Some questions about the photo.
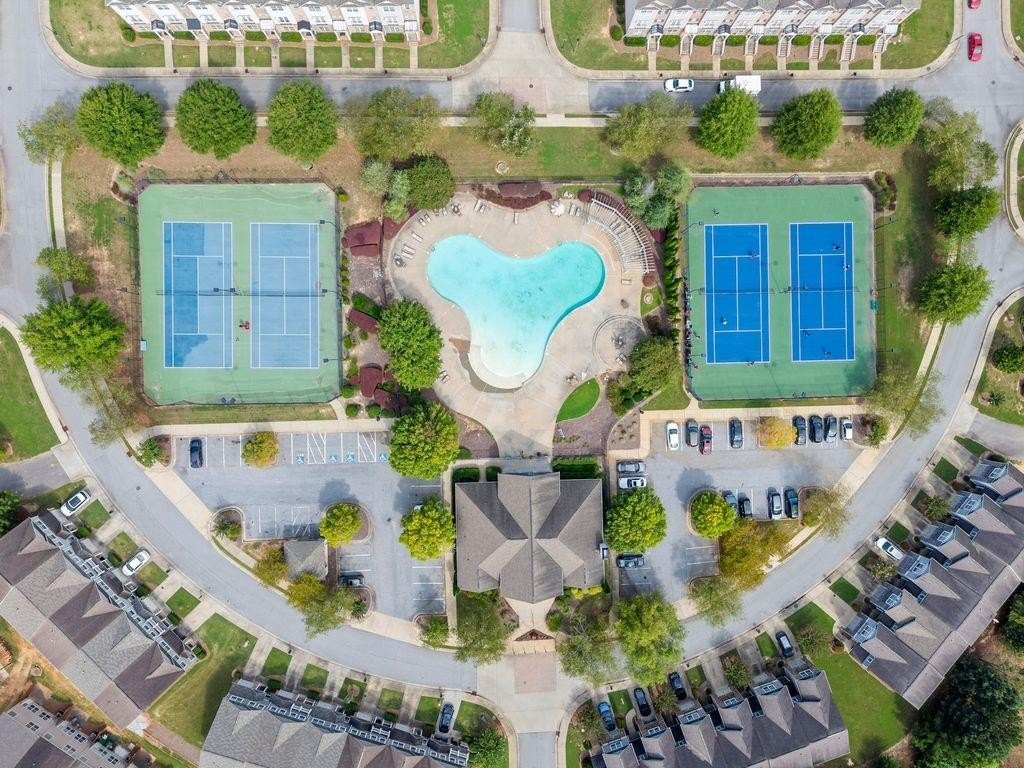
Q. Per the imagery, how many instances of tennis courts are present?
four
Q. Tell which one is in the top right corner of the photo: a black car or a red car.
red car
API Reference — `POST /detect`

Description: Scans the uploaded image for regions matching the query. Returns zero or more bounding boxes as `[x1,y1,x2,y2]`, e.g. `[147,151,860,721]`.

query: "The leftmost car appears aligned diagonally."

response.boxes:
[62,489,91,515]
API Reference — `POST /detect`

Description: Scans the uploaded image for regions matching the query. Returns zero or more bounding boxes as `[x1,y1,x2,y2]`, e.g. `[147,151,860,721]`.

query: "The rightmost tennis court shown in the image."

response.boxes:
[780,184,877,402]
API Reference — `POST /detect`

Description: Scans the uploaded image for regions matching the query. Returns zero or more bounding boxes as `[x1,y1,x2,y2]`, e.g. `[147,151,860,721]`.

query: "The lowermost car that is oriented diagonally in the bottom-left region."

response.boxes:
[123,548,151,574]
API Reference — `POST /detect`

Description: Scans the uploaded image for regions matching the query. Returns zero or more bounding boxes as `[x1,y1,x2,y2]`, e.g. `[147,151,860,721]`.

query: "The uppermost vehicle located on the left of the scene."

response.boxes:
[189,437,204,467]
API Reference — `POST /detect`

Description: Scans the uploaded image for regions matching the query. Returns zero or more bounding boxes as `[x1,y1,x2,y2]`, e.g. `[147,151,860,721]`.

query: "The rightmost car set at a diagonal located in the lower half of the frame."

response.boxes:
[872,534,901,559]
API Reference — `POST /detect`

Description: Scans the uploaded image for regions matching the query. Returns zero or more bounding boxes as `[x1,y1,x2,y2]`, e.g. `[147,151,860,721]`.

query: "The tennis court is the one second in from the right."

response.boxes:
[686,185,781,403]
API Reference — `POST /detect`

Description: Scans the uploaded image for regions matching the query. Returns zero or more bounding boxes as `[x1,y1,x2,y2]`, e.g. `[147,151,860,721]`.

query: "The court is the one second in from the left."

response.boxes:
[242,183,341,404]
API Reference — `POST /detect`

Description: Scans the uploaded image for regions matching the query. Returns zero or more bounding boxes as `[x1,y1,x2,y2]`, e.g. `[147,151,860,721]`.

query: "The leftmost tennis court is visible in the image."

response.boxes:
[138,183,242,405]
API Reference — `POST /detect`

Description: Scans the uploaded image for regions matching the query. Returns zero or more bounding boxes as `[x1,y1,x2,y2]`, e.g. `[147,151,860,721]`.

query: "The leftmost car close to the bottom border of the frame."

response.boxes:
[438,702,454,732]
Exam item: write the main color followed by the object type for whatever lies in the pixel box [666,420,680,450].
white car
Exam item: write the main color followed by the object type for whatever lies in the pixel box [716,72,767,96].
white truck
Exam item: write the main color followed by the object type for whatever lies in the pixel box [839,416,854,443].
white car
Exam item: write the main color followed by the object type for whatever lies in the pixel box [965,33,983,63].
red car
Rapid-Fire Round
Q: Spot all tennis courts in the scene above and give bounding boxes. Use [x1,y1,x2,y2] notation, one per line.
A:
[780,184,877,402]
[138,183,242,405]
[242,183,341,404]
[686,185,781,403]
